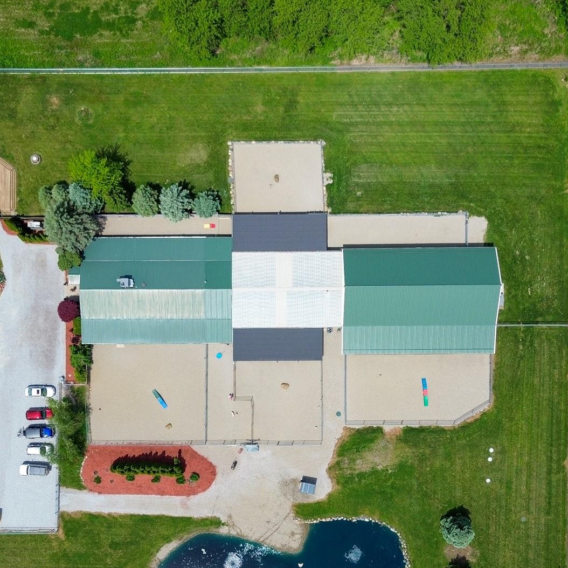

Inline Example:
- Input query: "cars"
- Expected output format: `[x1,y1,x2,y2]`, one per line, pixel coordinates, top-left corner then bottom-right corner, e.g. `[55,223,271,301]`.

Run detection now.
[26,384,58,399]
[26,407,56,422]
[24,426,55,440]
[20,462,53,477]
[26,444,55,458]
